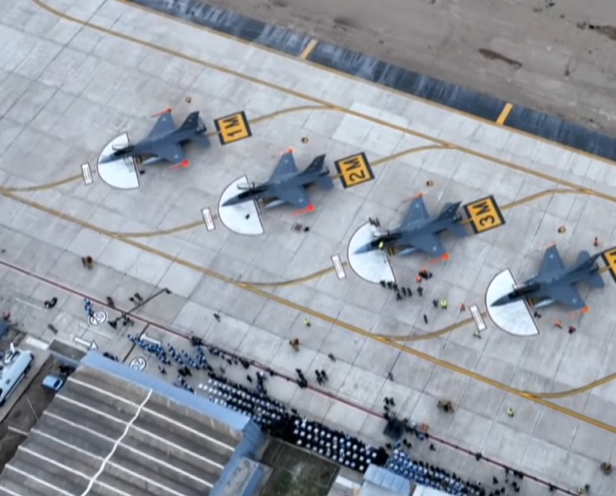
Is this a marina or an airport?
airport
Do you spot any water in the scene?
No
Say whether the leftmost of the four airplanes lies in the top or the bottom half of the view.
top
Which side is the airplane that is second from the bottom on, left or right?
right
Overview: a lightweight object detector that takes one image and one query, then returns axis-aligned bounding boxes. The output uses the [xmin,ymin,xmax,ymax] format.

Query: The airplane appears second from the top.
[220,149,329,215]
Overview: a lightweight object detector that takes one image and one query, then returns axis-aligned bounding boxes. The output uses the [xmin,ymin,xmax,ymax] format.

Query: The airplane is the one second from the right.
[351,194,463,265]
